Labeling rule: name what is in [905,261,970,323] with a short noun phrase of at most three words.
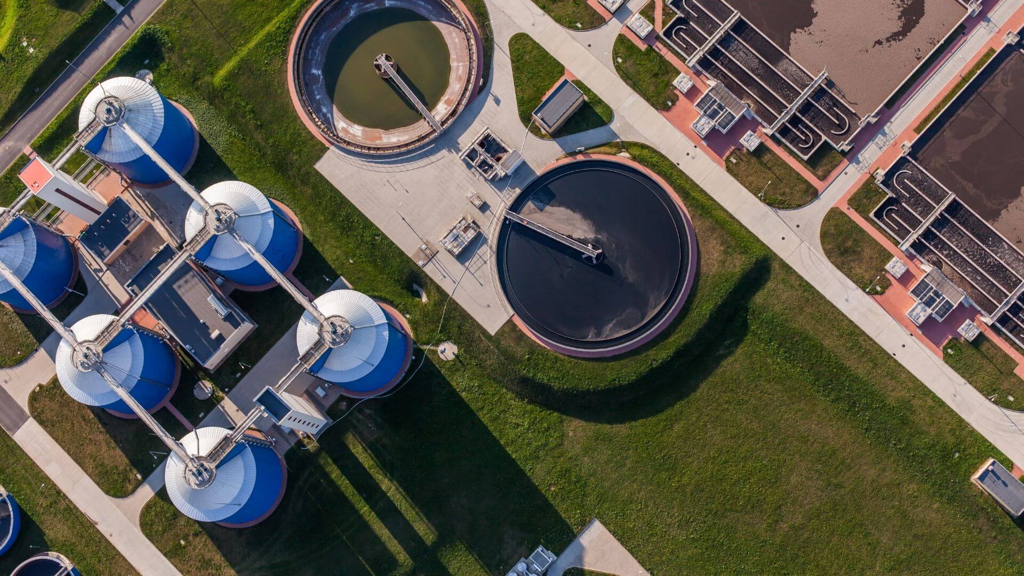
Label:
house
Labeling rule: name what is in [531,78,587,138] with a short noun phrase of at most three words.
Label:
building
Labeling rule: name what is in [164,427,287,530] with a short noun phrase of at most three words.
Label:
storage tank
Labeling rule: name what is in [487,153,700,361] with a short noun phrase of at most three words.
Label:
storage tank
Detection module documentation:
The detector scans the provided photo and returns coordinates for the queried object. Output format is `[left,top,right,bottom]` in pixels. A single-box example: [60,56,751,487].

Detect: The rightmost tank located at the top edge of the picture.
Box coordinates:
[288,0,487,164]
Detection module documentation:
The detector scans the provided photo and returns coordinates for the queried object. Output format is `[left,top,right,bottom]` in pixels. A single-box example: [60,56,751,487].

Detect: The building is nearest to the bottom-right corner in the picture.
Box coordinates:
[971,458,1024,517]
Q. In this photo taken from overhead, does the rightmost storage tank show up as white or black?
black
